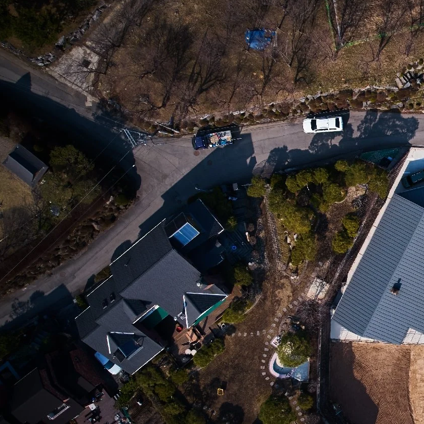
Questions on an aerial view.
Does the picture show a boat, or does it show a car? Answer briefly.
car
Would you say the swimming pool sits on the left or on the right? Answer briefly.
right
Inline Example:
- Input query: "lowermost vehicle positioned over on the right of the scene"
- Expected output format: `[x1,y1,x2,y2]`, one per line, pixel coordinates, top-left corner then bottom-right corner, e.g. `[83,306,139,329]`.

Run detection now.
[399,169,424,188]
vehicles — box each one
[190,129,233,150]
[95,350,121,381]
[399,169,424,188]
[302,114,342,134]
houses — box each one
[331,193,424,344]
[75,219,241,375]
[0,365,95,424]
